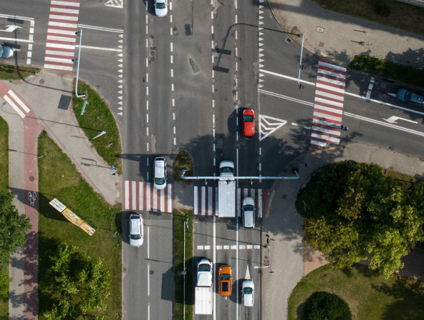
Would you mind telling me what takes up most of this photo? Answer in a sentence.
The largest share of the image is taken up by paved ground.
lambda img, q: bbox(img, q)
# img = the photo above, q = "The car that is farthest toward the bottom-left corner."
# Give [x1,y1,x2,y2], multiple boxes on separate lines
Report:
[128,213,144,246]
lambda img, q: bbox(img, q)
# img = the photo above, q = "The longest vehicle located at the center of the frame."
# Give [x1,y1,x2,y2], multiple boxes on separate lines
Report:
[216,161,235,220]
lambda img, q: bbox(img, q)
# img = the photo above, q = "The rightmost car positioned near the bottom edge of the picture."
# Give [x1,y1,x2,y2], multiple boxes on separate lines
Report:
[240,277,255,307]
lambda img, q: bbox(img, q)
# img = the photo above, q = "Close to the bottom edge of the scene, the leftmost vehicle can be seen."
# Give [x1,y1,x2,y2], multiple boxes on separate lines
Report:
[195,255,214,319]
